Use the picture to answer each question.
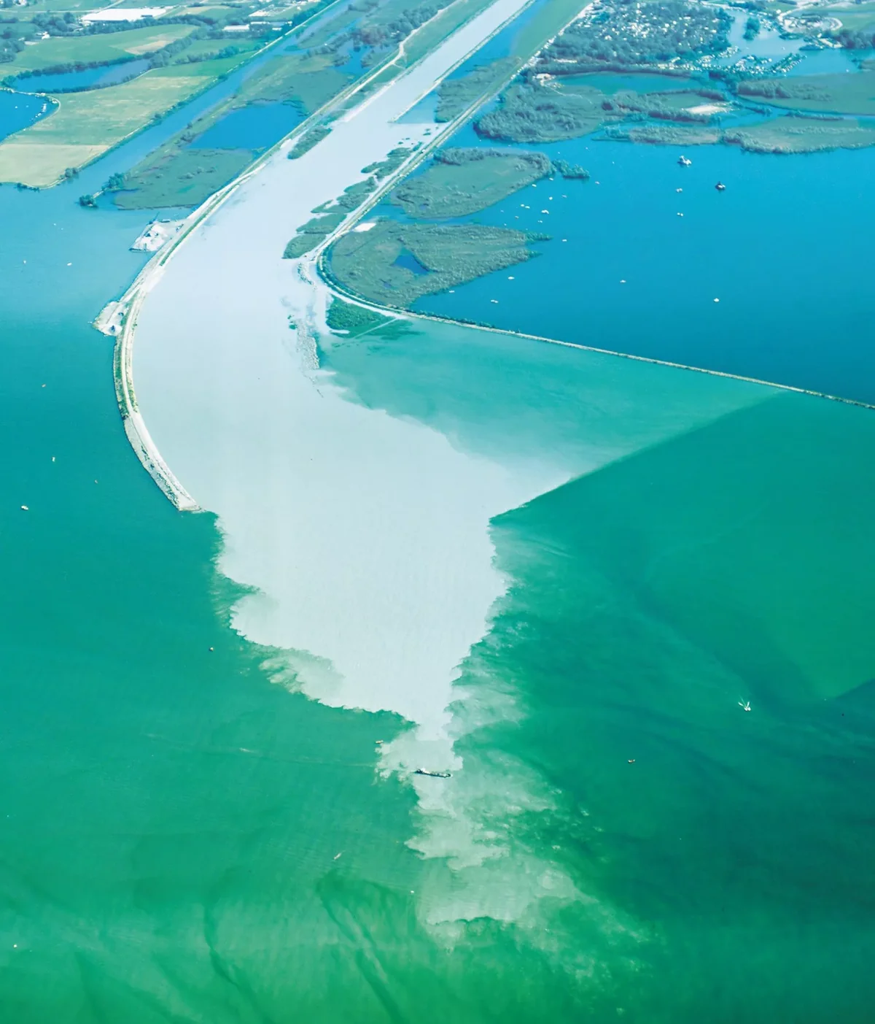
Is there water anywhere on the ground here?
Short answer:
Yes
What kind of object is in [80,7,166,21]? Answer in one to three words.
greenhouse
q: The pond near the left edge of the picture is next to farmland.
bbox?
[14,58,151,92]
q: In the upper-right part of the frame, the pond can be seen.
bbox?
[557,70,722,96]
